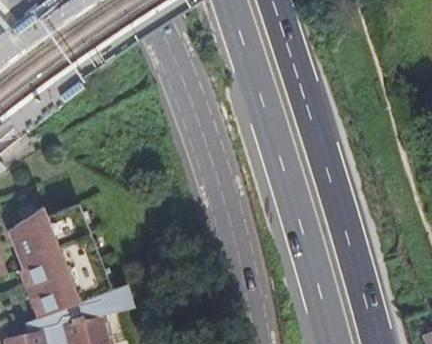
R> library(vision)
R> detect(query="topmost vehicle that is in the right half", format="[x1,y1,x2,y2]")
[281,18,296,42]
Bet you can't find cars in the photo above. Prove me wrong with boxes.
[244,268,258,292]
[288,232,303,256]
[366,284,380,308]
[164,21,175,33]
[281,18,296,42]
